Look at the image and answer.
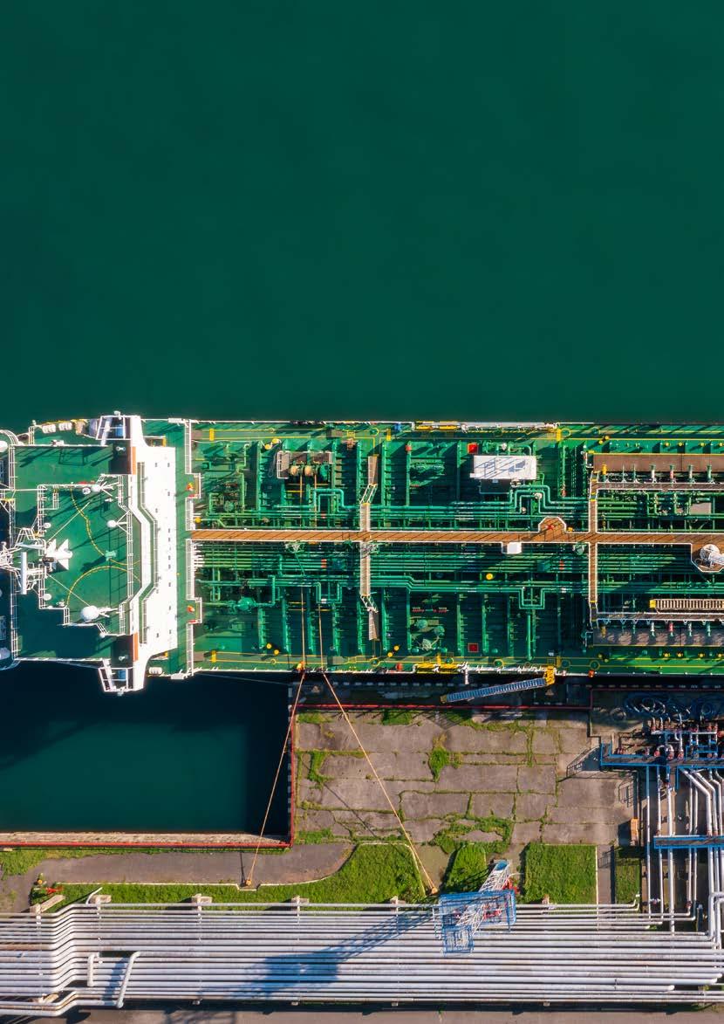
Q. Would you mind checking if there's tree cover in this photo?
No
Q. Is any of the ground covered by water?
Yes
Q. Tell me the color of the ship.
green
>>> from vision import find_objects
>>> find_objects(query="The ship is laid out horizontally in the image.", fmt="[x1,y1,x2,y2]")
[0,411,724,696]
